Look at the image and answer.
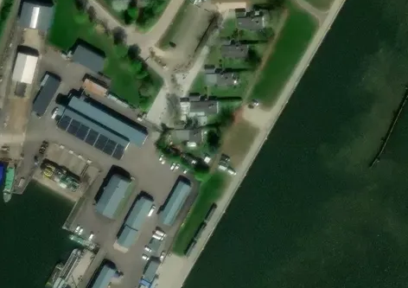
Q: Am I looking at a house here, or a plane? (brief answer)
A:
house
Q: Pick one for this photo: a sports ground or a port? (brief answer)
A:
port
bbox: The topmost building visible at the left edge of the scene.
[19,0,56,30]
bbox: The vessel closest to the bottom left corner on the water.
[45,263,64,288]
